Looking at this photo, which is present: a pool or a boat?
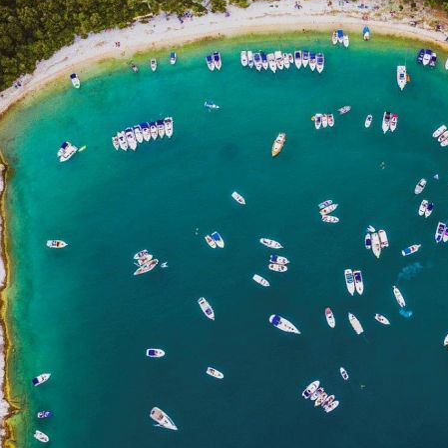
boat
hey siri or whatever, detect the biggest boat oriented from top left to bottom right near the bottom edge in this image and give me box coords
[149,406,177,432]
